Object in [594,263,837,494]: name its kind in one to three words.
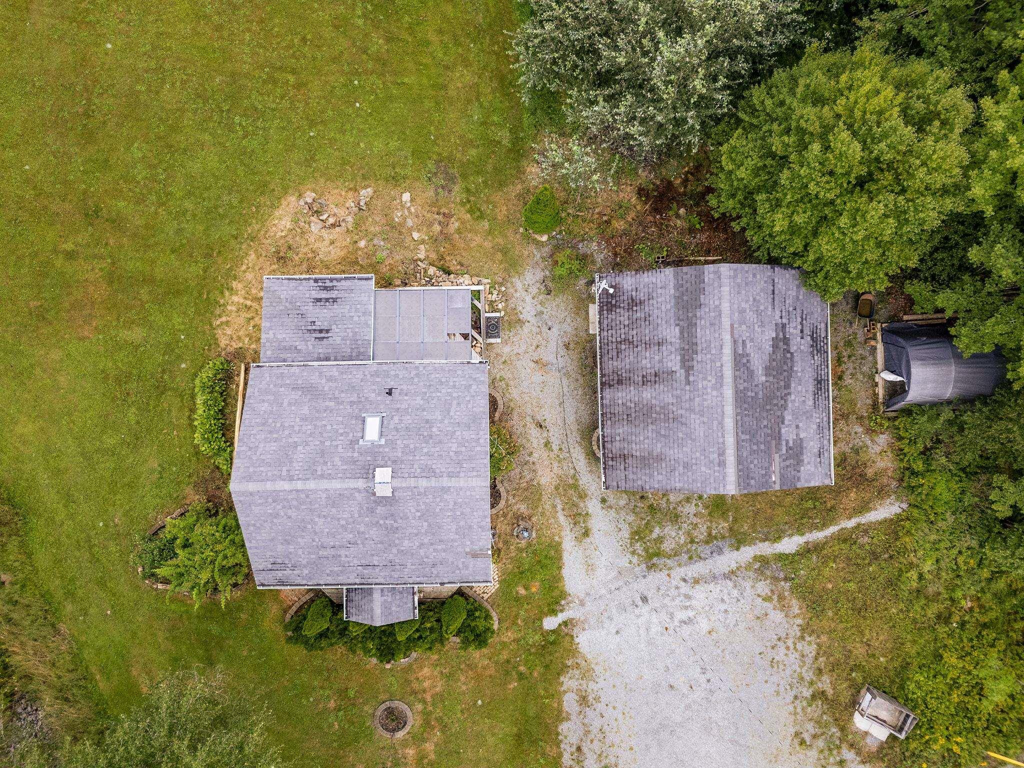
building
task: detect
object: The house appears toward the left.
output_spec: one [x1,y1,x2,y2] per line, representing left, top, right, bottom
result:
[230,271,498,626]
